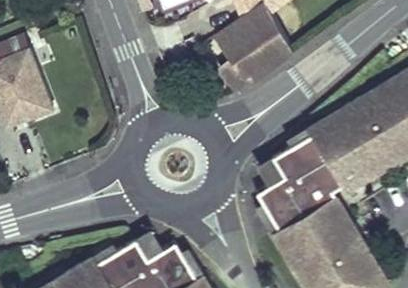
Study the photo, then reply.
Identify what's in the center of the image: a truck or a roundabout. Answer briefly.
roundabout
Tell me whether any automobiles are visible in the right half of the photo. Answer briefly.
Yes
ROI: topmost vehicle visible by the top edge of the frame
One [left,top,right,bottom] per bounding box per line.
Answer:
[208,14,230,27]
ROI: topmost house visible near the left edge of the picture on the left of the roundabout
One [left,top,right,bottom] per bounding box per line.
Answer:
[0,48,54,128]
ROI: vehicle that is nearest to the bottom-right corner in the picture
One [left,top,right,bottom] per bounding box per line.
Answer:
[388,186,406,210]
